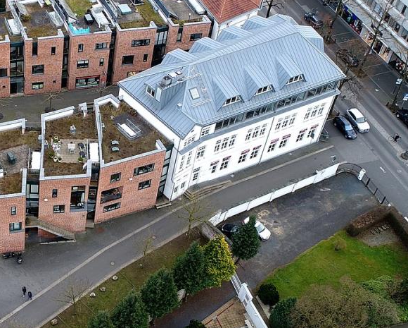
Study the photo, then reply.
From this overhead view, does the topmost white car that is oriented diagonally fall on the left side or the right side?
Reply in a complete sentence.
The topmost white car that is oriented diagonally is on the right side of the image.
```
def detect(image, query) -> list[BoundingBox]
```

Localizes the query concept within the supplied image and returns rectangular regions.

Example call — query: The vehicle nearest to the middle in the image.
[216,216,247,236]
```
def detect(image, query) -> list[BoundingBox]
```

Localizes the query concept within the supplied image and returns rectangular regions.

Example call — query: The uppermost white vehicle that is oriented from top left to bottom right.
[345,107,373,130]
